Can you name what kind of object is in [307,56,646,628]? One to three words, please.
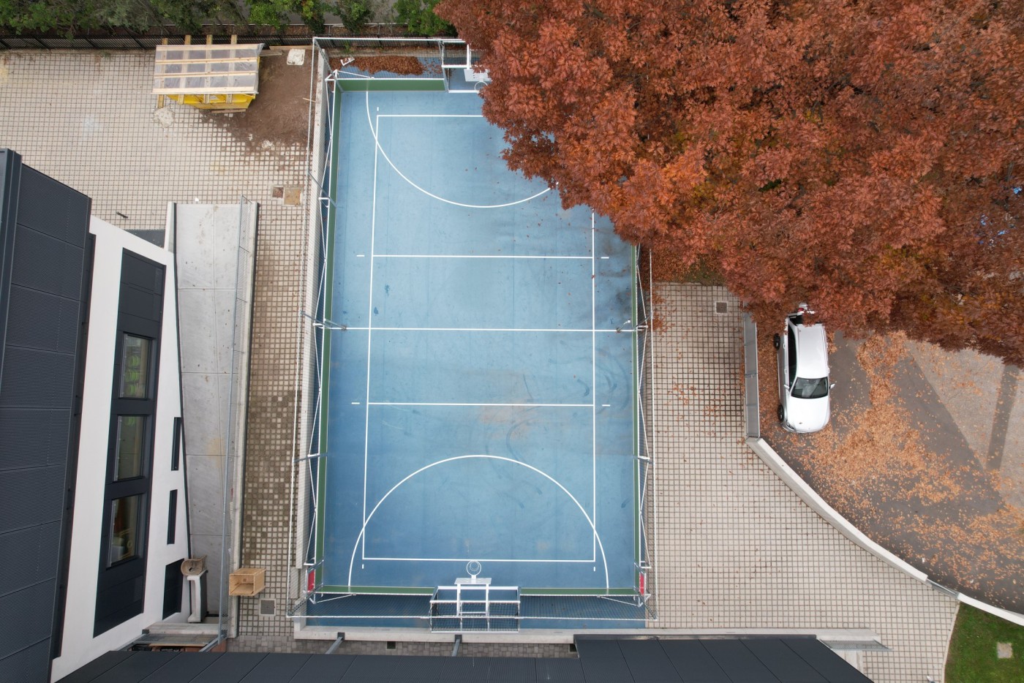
sports court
